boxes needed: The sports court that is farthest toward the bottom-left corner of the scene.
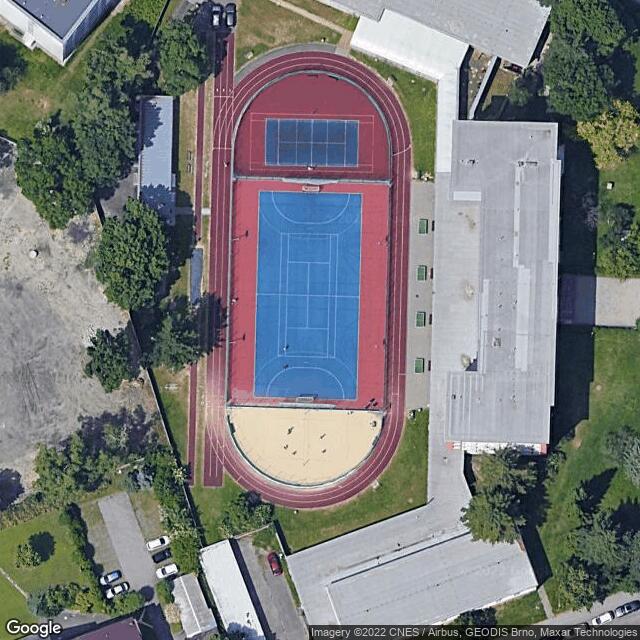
[227,406,384,488]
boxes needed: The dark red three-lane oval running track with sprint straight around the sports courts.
[202,30,412,511]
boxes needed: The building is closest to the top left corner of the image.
[0,0,124,66]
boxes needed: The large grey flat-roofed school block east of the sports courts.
[446,121,561,455]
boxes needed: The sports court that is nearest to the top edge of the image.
[233,72,390,182]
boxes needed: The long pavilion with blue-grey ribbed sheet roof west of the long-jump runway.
[138,96,174,229]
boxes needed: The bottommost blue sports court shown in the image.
[228,181,389,408]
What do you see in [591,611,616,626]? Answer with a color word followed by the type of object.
white car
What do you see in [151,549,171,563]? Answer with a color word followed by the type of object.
black car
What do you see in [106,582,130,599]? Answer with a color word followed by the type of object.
white car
